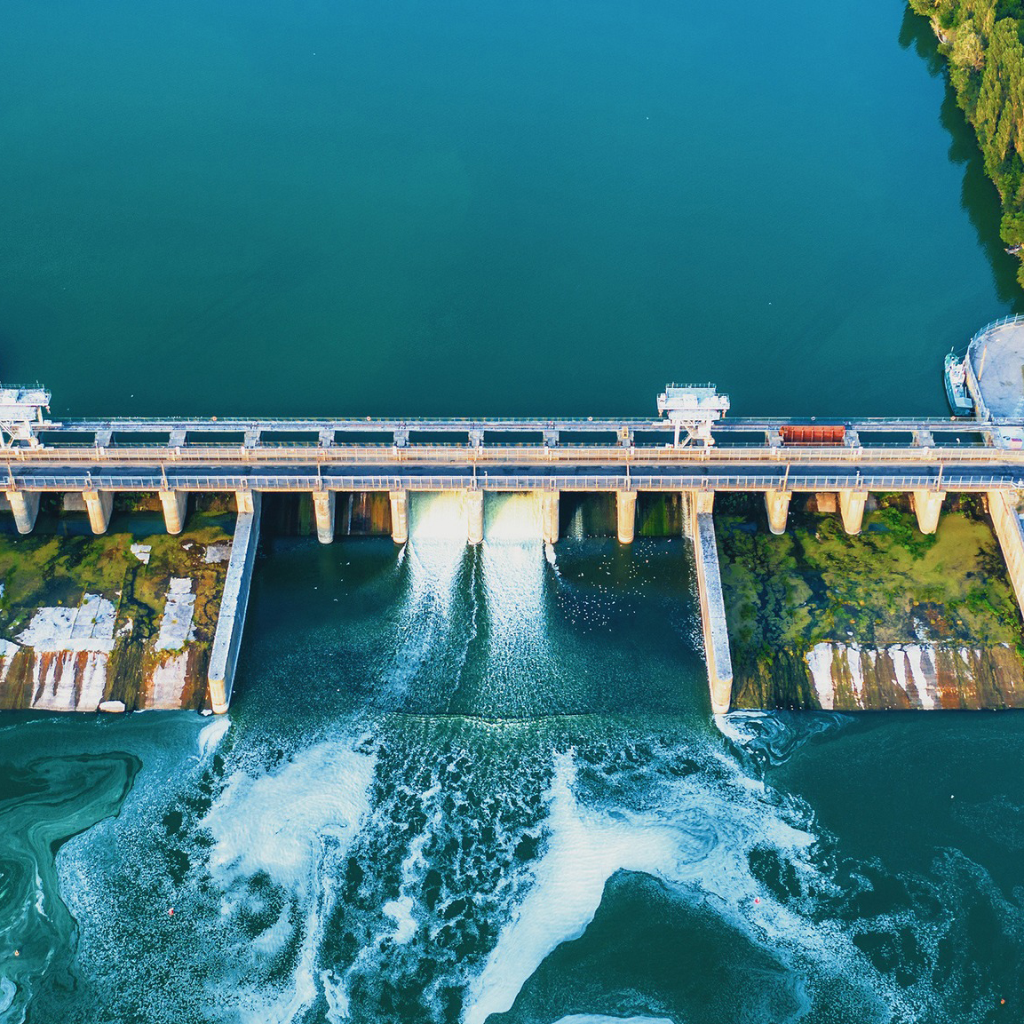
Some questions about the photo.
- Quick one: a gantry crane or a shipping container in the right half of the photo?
gantry crane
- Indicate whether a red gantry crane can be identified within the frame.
No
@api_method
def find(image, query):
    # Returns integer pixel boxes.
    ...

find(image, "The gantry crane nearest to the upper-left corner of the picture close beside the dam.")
[0,377,53,447]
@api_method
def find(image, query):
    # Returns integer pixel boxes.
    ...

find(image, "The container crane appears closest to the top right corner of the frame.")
[652,377,731,447]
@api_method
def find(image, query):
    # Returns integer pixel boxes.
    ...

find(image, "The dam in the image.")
[0,421,1024,712]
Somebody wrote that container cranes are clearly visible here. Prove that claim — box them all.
[0,377,53,447]
[652,377,731,447]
